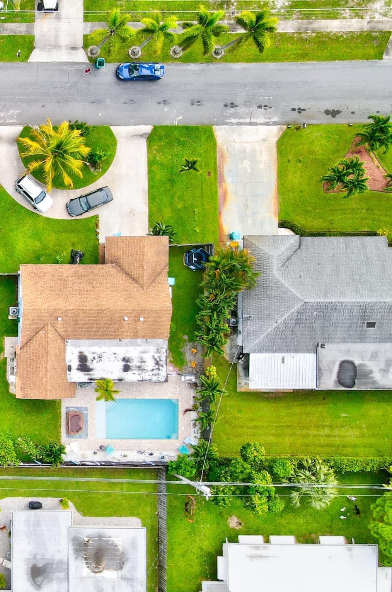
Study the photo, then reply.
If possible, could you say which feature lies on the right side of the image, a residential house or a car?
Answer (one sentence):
Looking on the right side of the image, you will find a residential house.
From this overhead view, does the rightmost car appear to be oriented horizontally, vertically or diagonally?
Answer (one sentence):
The rightmost car runs horizontally in the image.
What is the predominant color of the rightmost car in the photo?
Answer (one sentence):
In this view, the rightmost car is blue.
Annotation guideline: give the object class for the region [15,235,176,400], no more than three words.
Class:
house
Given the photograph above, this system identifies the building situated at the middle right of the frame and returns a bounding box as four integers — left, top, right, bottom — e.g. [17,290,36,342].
[233,235,392,390]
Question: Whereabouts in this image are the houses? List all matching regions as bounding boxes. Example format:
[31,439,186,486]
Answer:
[0,510,146,592]
[15,235,176,400]
[198,535,392,592]
[233,235,392,390]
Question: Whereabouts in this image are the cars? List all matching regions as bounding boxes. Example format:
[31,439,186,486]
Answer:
[11,176,54,214]
[37,0,62,14]
[116,58,165,82]
[65,185,117,218]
